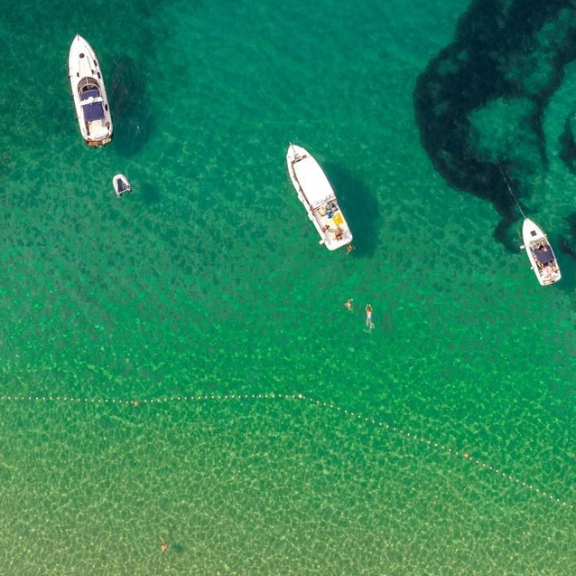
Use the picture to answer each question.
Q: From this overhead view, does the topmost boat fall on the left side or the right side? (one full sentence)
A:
The topmost boat sits on the left side.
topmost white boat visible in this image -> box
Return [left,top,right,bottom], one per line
[69,33,112,146]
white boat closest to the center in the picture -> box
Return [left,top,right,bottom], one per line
[289,140,350,250]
